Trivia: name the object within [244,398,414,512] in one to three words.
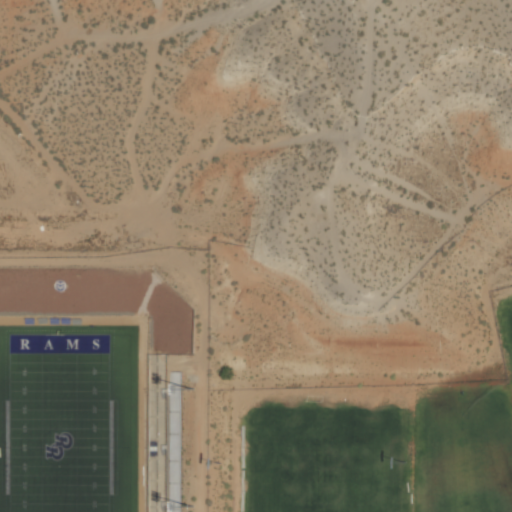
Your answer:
soccer field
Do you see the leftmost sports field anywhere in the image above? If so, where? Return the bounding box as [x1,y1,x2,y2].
[0,325,140,512]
